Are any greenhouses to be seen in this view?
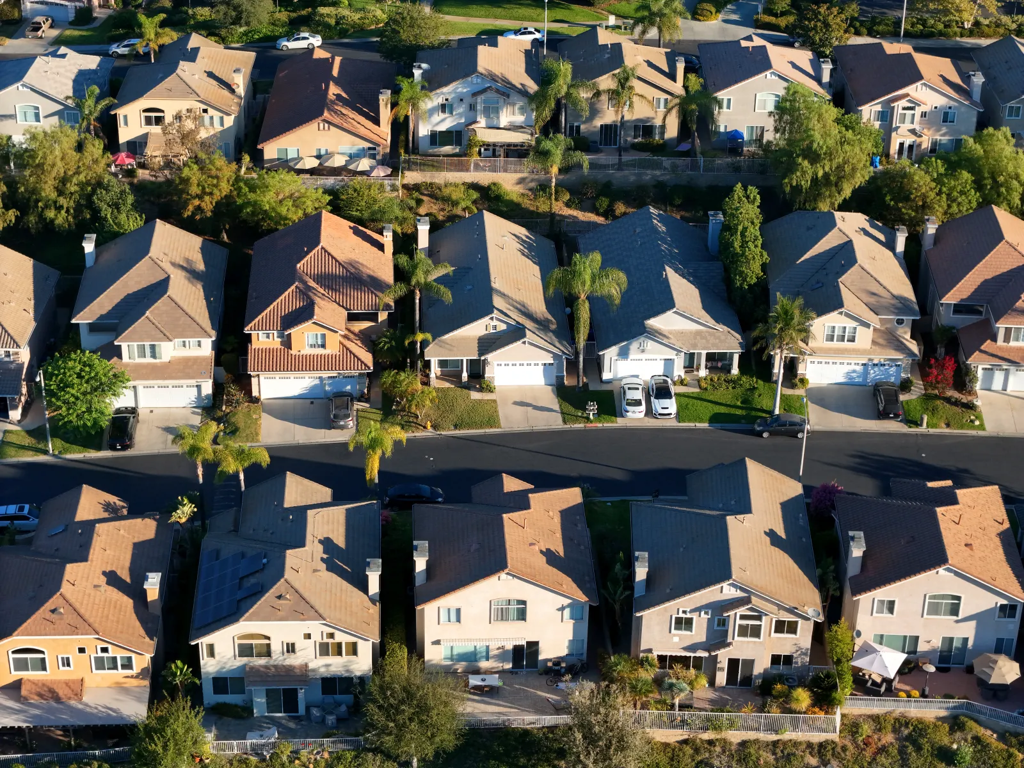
No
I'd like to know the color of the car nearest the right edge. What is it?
black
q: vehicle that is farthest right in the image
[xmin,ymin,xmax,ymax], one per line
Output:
[875,380,905,421]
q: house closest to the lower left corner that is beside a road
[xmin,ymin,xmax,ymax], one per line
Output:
[0,483,178,762]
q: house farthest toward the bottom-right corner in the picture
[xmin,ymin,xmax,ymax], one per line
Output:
[829,461,1024,663]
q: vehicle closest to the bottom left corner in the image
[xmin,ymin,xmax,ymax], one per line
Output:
[0,503,32,533]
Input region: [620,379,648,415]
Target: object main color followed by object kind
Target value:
white car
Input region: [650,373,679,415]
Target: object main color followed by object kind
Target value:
white car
